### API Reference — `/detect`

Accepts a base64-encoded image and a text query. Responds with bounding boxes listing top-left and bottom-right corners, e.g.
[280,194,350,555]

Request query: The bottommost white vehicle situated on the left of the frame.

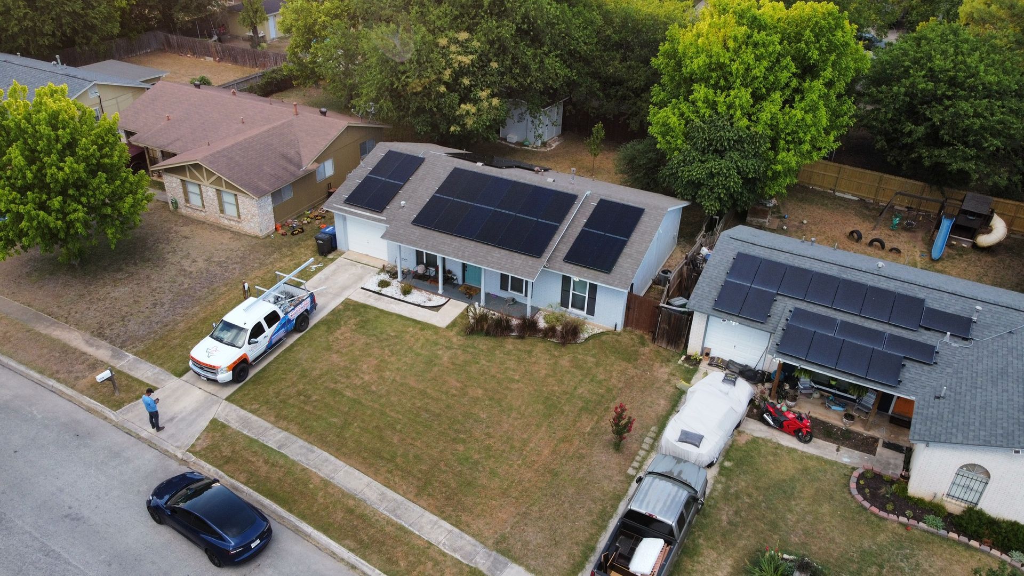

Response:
[185,271,318,382]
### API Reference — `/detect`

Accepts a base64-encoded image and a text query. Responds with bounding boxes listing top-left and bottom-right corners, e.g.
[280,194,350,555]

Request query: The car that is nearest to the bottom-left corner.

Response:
[150,475,277,573]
